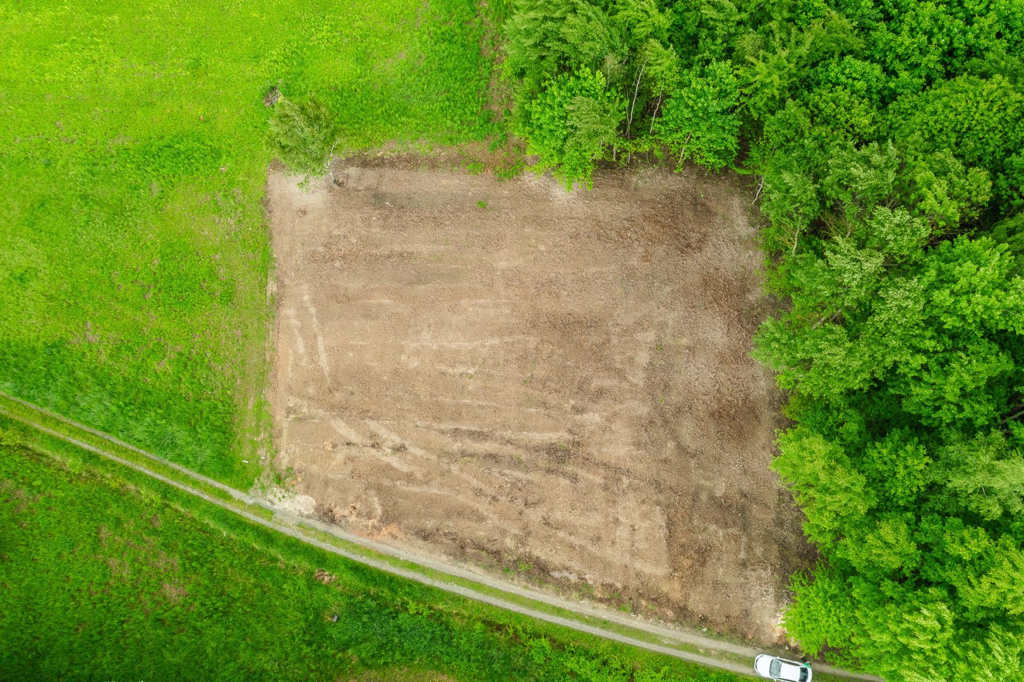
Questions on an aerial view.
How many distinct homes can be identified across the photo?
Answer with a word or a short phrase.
zero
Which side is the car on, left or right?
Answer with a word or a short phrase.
right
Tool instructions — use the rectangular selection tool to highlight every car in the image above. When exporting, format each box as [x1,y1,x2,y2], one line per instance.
[754,651,814,682]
